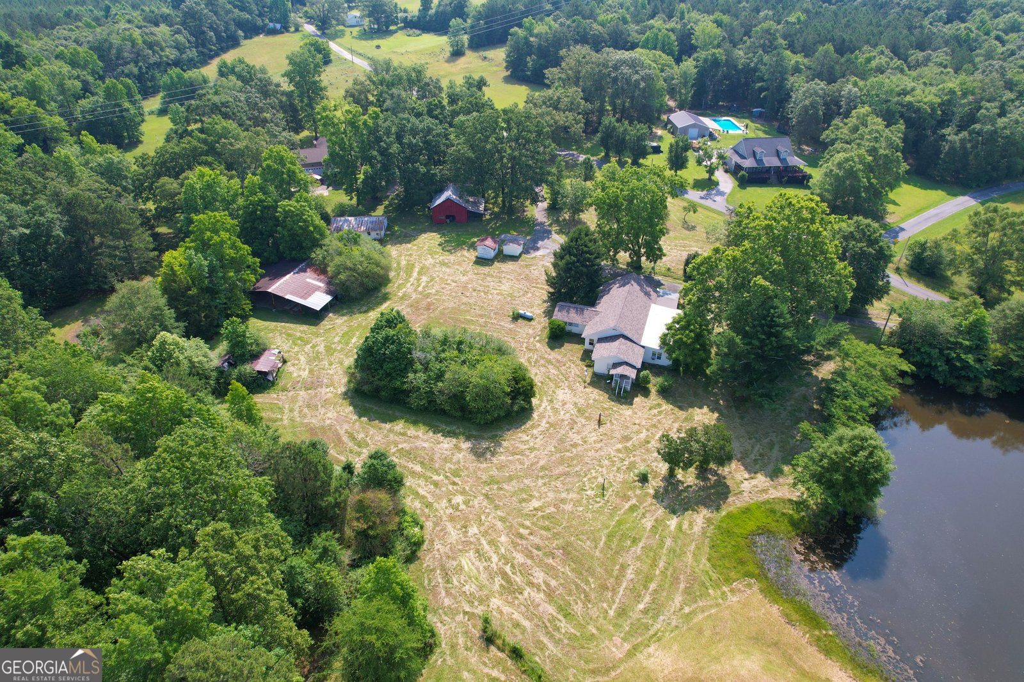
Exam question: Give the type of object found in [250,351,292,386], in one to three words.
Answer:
shed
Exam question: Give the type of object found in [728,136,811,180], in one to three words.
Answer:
house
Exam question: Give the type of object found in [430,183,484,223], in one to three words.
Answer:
barn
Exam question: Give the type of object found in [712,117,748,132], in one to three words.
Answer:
swimming pool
